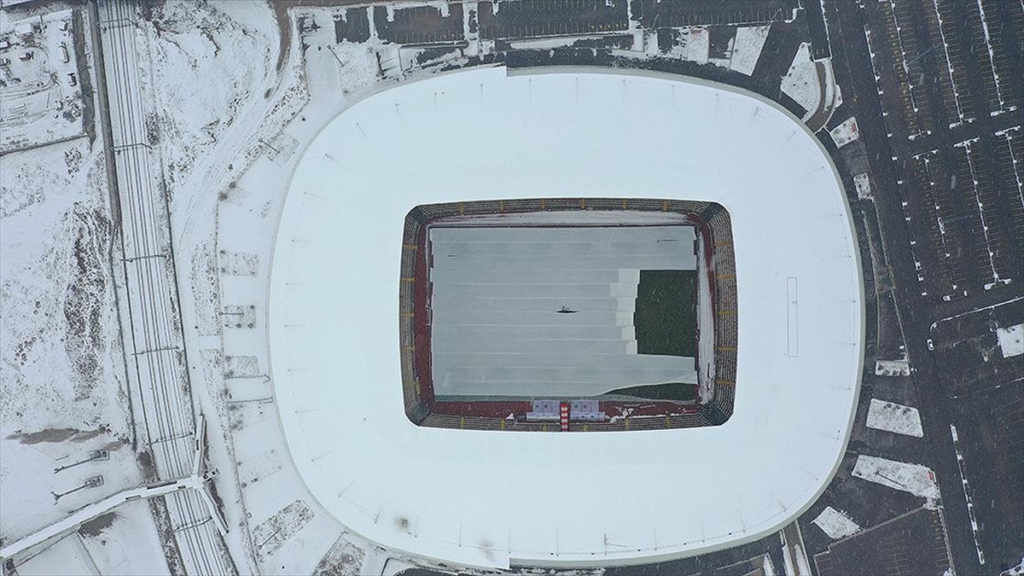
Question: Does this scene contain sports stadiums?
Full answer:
Yes, you can see a sports stadium in this photo.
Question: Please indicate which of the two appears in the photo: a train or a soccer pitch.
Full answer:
I can see a soccer pitch in this picture.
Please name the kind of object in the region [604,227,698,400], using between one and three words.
soccer field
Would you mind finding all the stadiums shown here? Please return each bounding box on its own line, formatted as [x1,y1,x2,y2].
[268,64,865,572]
